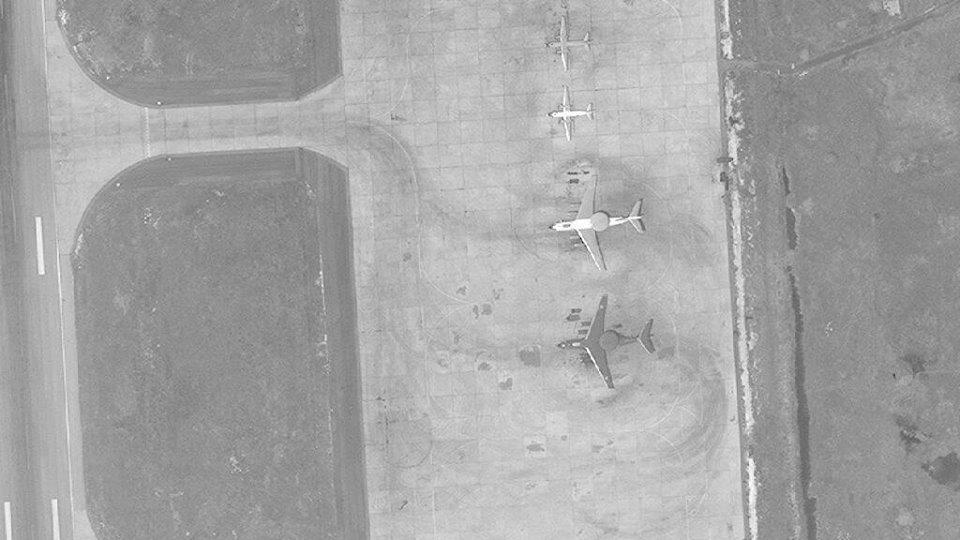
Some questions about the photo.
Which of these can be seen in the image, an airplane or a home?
airplane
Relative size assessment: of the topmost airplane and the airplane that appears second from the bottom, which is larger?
the airplane that appears second from the bottom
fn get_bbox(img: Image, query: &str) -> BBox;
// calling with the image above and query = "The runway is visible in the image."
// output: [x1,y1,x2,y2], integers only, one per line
[0,0,74,540]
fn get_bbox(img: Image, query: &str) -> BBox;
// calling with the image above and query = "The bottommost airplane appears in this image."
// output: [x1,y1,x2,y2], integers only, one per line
[558,293,652,389]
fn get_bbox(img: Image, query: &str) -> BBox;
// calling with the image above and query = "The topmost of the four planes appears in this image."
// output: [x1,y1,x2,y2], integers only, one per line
[546,16,591,71]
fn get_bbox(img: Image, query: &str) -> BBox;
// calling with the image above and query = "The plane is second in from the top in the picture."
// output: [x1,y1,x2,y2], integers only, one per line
[547,86,592,142]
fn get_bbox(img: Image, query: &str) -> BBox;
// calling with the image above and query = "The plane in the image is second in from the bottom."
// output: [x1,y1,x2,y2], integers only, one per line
[550,175,644,270]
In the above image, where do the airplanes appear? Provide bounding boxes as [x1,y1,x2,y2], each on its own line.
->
[558,293,652,389]
[550,175,644,270]
[547,86,592,142]
[546,16,591,71]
